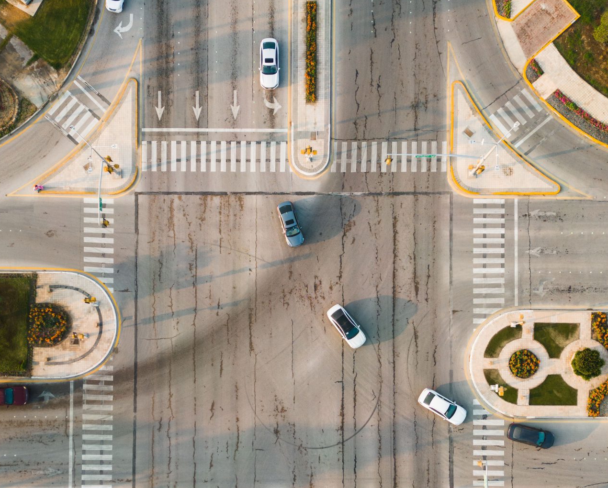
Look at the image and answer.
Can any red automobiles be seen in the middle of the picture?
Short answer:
No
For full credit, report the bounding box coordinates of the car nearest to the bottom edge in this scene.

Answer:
[506,423,555,449]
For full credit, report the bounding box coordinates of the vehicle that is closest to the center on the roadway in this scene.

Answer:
[276,200,305,249]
